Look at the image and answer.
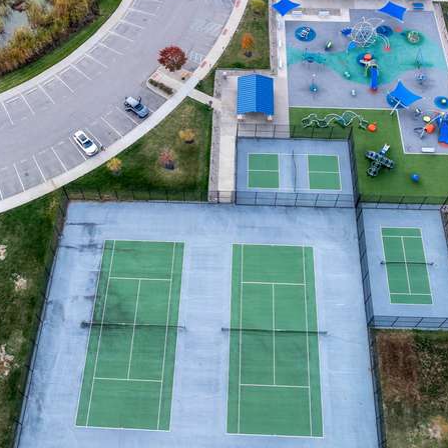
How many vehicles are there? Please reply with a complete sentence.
In total, 2 vehicles can be seen.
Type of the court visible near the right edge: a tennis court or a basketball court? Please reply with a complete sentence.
In the photo, the court visible near the right edge shows up as a tennis court.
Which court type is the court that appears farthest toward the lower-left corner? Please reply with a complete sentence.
It turns out the court that appears farthest toward the lower-left corner is a tennis court.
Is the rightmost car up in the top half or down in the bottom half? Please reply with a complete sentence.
Seen from above, the rightmost car lies in the top half of the view.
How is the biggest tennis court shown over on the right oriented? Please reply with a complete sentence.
The biggest tennis court shown over on the right runs up and down in the image.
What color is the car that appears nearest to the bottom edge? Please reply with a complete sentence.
From above, the car that appears nearest to the bottom edge appears white.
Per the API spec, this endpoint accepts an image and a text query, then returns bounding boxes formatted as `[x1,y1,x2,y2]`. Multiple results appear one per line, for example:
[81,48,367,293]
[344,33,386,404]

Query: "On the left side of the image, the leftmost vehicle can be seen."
[74,130,100,158]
